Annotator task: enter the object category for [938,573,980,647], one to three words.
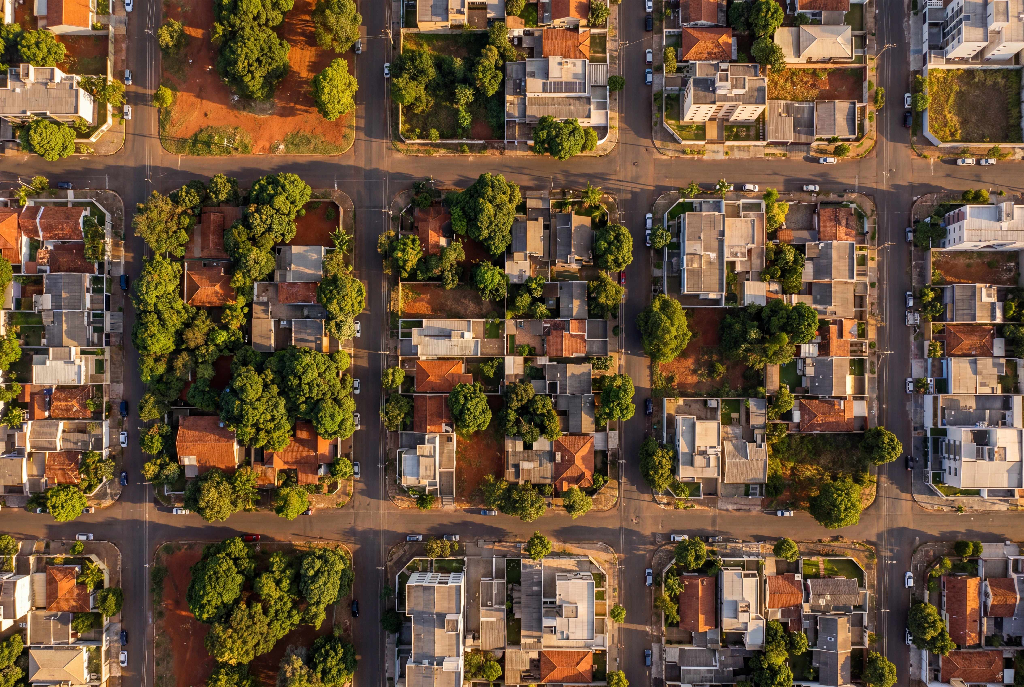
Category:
house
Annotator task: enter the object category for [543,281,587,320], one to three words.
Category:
house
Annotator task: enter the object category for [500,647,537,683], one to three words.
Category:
shed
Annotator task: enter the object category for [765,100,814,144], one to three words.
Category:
building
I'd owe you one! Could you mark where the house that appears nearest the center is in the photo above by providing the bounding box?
[505,357,523,382]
